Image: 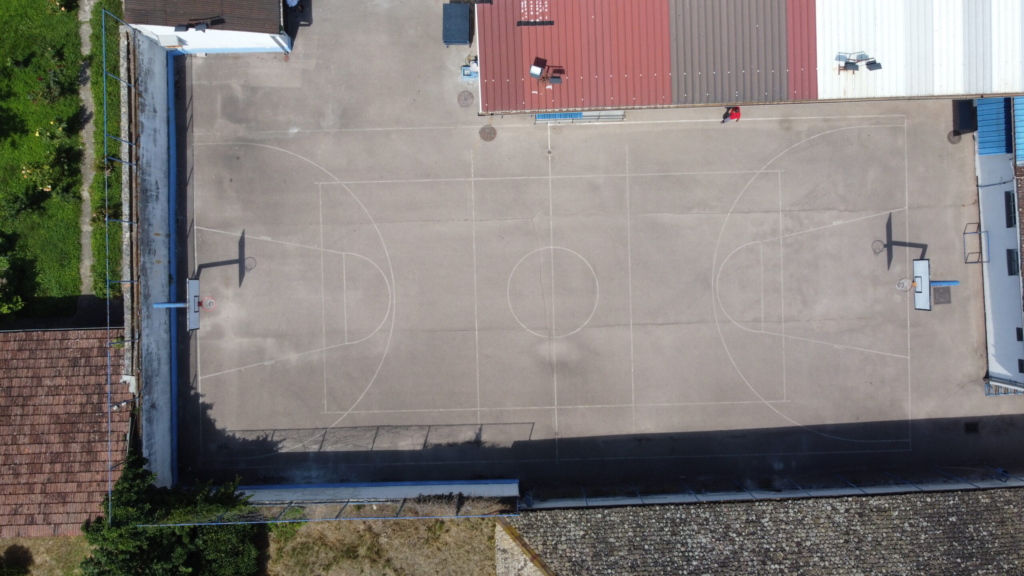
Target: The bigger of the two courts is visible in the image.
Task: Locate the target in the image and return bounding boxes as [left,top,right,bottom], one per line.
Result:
[192,115,970,470]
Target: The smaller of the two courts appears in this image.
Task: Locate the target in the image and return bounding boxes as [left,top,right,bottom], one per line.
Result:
[315,145,790,432]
